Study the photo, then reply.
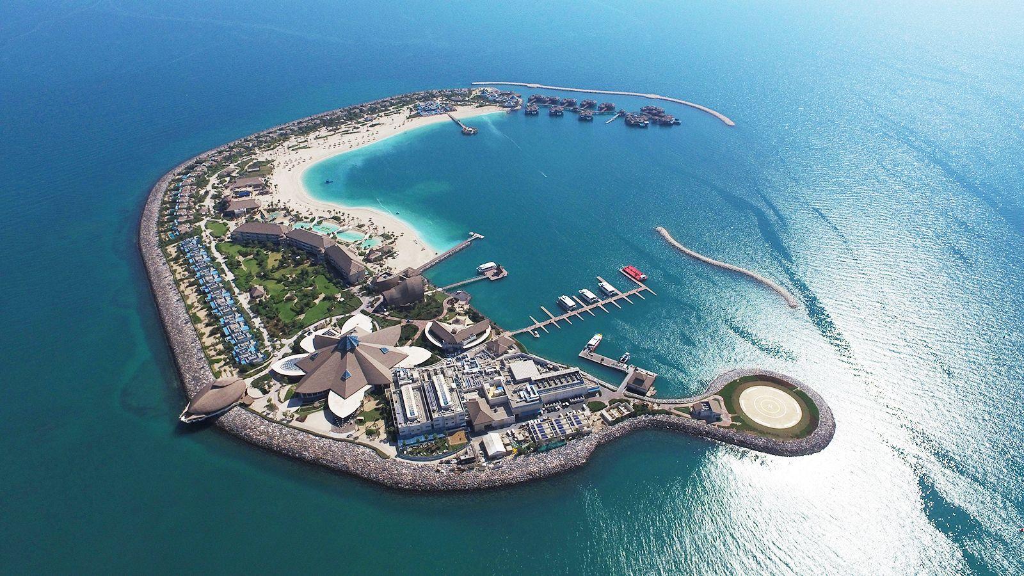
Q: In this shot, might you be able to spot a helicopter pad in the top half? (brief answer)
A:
No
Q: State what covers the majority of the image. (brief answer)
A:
water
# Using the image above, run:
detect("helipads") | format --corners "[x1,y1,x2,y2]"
[736,386,806,431]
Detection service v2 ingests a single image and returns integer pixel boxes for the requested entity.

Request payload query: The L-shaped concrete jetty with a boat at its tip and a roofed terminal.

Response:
[579,349,658,396]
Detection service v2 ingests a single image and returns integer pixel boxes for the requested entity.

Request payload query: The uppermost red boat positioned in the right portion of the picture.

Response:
[621,266,647,281]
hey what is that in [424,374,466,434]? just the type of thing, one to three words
building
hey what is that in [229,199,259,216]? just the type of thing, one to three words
building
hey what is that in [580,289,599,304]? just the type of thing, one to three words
ship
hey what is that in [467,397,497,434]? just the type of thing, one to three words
house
